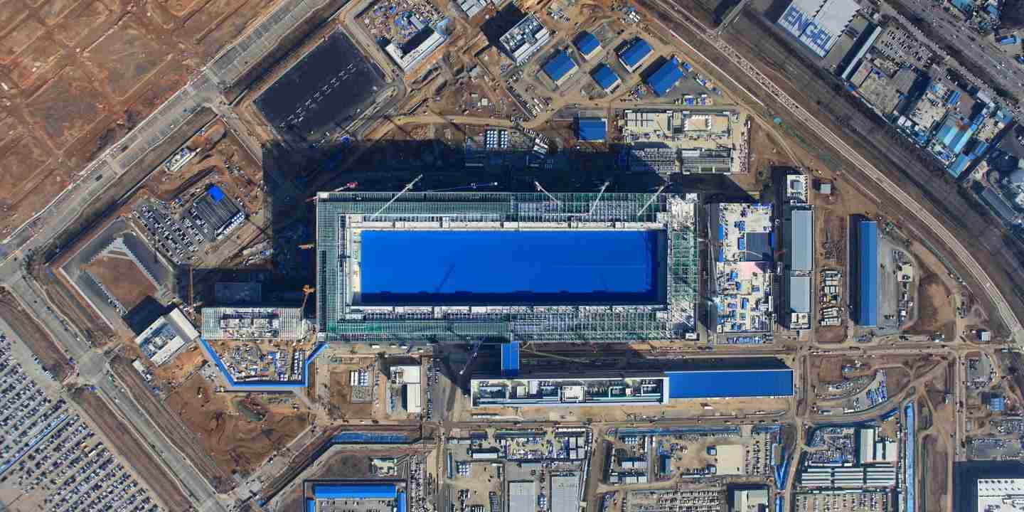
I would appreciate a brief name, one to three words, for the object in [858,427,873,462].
shed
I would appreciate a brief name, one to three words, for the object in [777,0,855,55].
building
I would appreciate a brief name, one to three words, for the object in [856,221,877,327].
shed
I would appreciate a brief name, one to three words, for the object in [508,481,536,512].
building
